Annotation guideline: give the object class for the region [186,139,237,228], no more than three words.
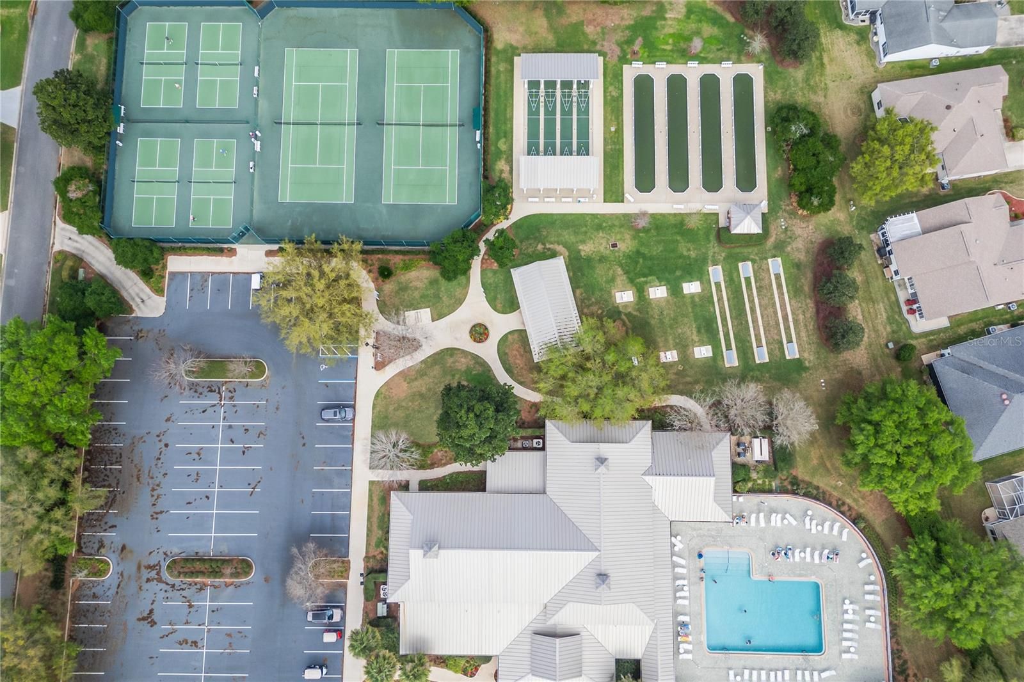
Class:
sports court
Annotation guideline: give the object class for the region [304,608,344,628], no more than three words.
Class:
car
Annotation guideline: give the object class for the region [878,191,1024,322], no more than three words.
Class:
house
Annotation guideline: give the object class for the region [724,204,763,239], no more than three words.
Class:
gazebo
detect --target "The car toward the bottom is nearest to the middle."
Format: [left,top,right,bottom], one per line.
[318,405,354,423]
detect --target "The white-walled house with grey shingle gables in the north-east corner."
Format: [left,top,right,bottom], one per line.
[847,0,999,64]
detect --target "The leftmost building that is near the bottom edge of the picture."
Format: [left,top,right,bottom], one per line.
[386,420,733,682]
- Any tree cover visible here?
Yes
